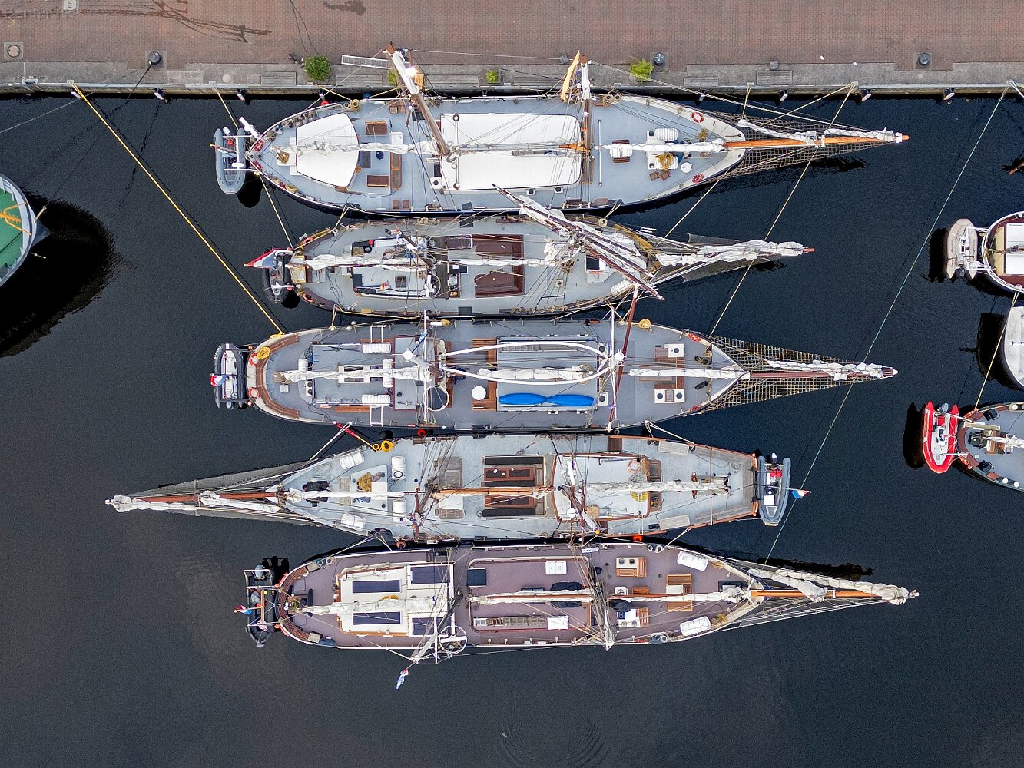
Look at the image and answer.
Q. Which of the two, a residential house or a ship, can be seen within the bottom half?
ship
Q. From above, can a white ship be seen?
Yes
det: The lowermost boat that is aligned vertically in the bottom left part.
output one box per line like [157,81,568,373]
[246,573,275,644]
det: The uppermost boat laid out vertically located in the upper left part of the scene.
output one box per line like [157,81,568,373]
[214,126,248,193]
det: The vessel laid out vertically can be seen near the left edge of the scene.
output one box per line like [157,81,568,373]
[0,173,50,292]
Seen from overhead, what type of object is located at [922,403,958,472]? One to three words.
boat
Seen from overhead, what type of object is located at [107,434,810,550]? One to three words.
ship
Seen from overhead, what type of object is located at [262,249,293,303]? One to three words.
boat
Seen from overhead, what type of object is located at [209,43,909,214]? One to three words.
ship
